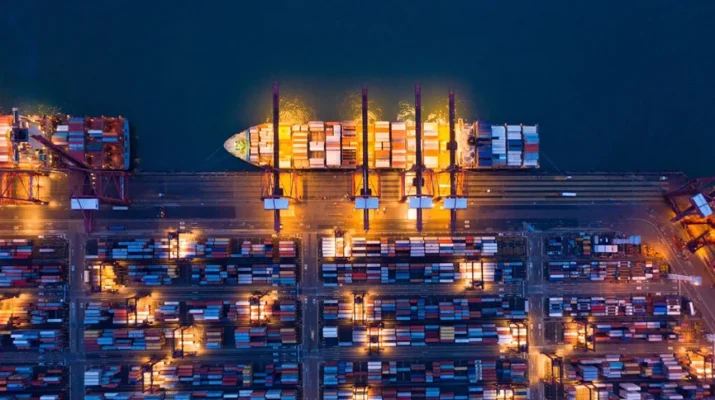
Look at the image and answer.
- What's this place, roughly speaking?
port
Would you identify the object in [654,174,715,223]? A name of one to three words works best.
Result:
container crane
